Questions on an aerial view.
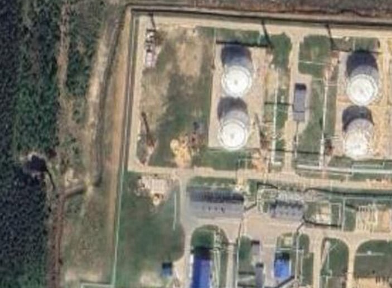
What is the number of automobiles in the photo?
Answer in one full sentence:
I count no automobiles.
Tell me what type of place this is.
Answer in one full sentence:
What you see here is an industrial area.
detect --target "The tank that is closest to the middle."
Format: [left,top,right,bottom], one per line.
[216,111,250,150]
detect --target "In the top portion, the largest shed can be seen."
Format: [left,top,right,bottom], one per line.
[293,88,306,121]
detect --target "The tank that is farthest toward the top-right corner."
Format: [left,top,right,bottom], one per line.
[345,64,381,105]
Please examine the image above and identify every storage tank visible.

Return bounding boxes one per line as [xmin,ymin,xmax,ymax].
[216,111,250,150]
[345,64,381,105]
[341,117,375,158]
[221,56,254,96]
